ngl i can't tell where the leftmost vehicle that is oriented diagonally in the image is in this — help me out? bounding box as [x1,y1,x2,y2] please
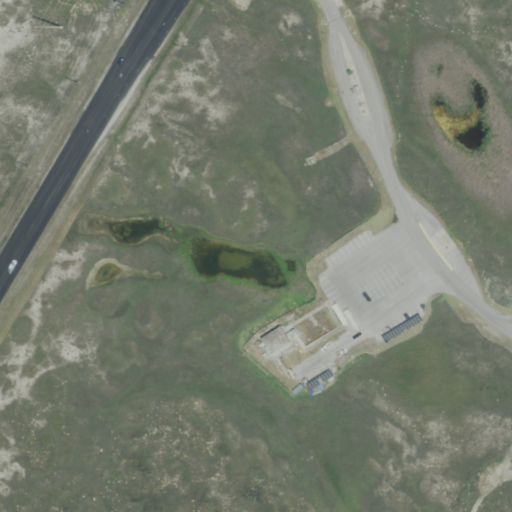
[5,258,18,274]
